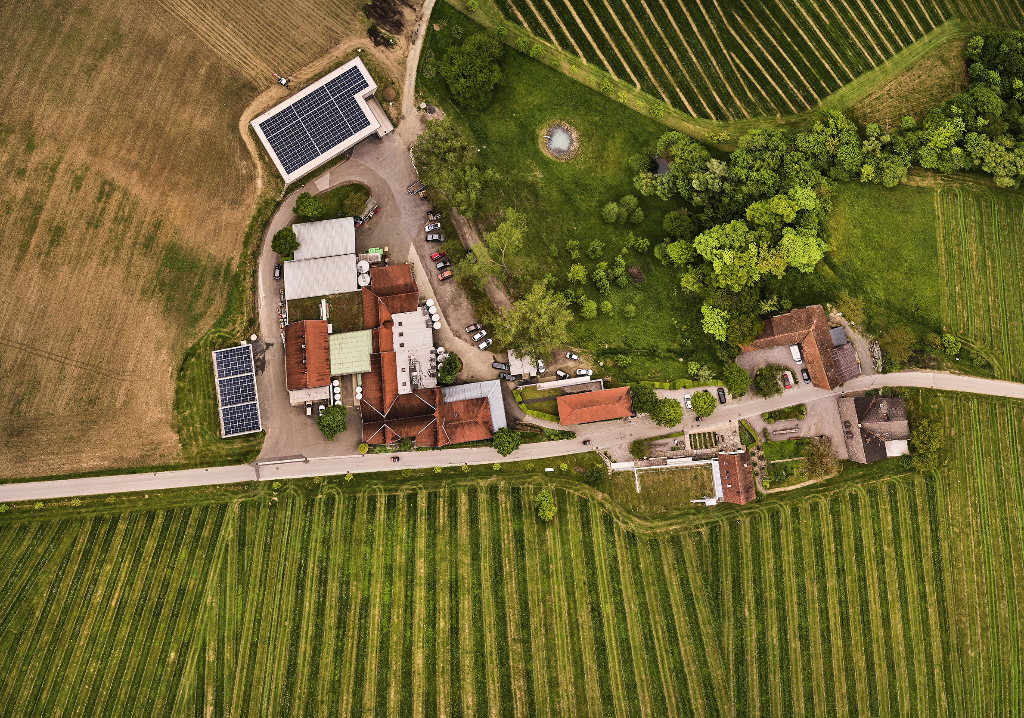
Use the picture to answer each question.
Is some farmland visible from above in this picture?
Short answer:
Yes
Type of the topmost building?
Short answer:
warehouse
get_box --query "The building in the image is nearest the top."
[250,56,383,187]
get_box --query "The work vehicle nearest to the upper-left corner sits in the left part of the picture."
[271,70,290,87]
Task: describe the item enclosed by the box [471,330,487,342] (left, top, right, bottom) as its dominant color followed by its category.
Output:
white vehicle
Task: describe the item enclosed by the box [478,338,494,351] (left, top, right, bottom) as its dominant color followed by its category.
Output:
white vehicle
